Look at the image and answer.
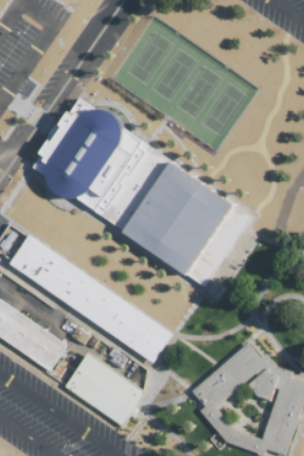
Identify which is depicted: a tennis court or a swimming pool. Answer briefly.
tennis court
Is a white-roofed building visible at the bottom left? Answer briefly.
Yes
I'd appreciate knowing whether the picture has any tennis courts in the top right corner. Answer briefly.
Yes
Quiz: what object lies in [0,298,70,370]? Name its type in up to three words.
building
